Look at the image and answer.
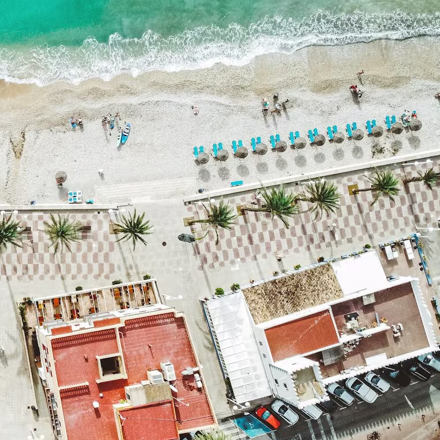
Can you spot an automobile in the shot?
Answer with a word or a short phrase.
Yes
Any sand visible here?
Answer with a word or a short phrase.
Yes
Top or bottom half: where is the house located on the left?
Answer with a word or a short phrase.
bottom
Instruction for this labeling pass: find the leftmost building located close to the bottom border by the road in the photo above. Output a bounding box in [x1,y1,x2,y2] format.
[36,300,216,440]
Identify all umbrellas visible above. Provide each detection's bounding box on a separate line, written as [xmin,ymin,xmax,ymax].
[216,148,229,161]
[273,140,286,153]
[370,125,383,138]
[54,170,67,183]
[255,142,268,155]
[235,146,248,158]
[313,133,325,146]
[350,128,363,141]
[406,118,420,131]
[332,131,345,144]
[294,137,306,150]
[196,152,209,165]
[390,121,403,134]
